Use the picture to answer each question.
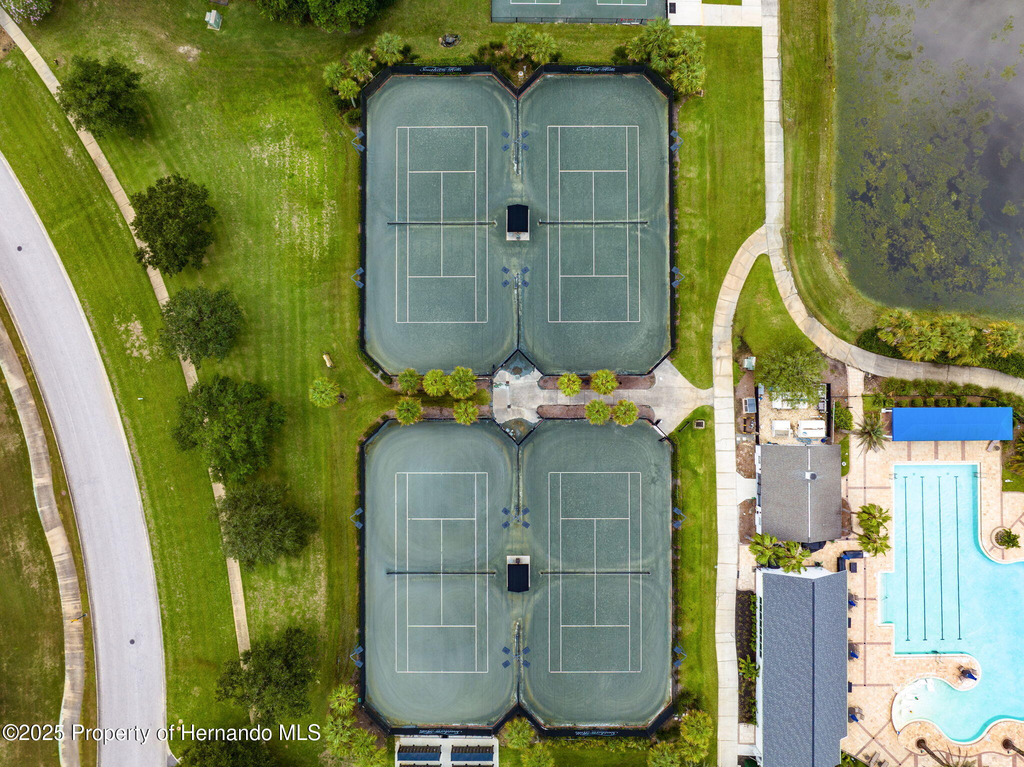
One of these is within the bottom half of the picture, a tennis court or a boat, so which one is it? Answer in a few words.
tennis court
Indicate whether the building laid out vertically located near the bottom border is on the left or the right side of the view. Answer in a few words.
right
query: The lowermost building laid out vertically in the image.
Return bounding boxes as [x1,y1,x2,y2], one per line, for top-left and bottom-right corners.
[750,570,849,767]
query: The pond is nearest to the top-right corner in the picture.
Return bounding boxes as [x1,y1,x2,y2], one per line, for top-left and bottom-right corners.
[829,0,1024,328]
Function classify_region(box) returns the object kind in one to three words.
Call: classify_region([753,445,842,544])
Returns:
building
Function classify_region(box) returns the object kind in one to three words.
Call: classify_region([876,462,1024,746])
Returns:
swimming pool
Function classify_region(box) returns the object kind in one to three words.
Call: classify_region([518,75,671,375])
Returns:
tennis court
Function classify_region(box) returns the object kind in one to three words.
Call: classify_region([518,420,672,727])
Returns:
tennis court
